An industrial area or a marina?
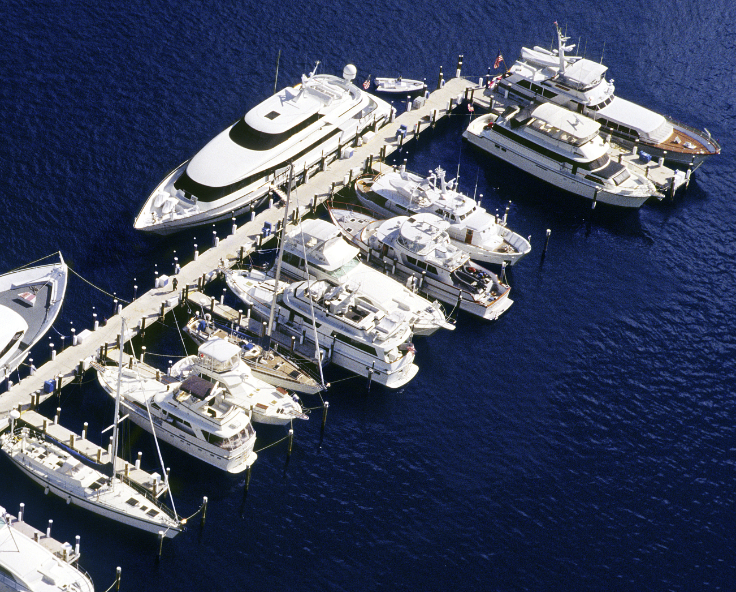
marina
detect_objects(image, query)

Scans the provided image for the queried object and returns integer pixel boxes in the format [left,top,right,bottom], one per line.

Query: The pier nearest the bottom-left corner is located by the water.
[0,507,87,570]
